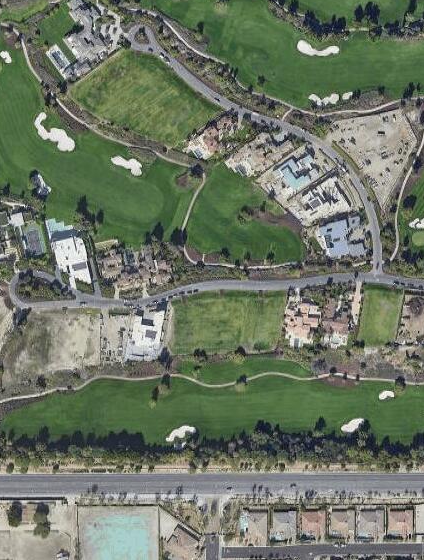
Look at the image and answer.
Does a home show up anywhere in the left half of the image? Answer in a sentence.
Yes, the scene does show a home in the left half of the image.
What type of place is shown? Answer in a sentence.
This looks like a golf course.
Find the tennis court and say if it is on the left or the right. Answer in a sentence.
It is on the left.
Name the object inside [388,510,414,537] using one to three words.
house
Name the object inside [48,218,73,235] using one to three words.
swimming pool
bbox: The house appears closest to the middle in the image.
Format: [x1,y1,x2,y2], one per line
[139,244,173,284]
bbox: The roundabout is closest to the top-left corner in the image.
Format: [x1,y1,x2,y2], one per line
[127,22,169,60]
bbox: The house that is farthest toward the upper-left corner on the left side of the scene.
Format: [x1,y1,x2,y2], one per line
[63,0,108,77]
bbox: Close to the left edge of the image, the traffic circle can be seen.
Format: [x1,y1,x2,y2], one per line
[8,269,81,309]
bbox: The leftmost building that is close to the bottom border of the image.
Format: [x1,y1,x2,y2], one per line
[166,526,198,560]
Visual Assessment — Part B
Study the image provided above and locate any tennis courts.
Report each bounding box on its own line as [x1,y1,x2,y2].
[23,224,46,255]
